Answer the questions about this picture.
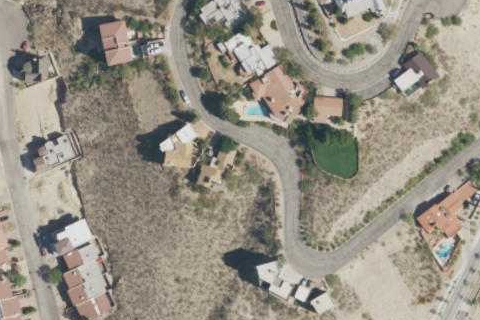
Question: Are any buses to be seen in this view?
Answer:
No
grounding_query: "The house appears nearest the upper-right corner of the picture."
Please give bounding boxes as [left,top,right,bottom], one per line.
[396,50,441,90]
